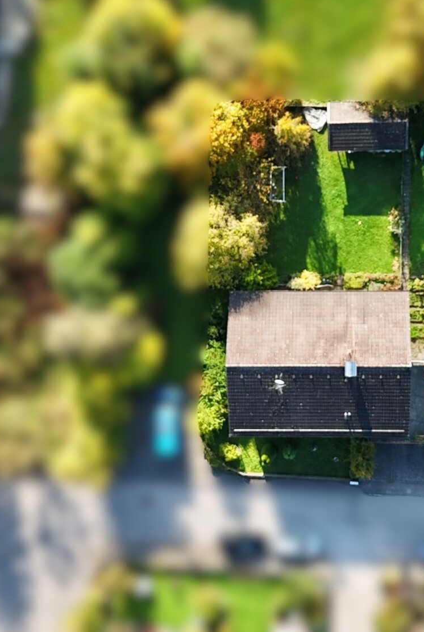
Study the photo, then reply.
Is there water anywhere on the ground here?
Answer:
No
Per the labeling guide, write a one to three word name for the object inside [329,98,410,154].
shed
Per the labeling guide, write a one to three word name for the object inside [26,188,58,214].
shed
